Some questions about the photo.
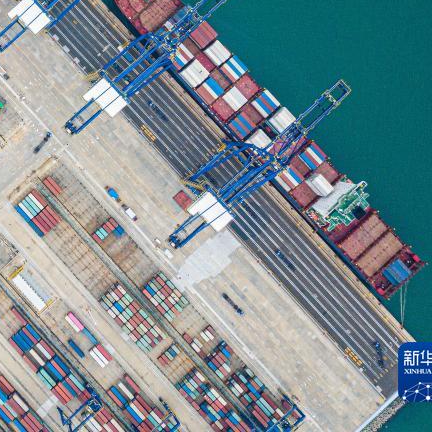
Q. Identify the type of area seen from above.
port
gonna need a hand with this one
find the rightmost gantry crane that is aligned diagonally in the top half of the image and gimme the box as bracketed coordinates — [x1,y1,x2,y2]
[165,78,354,252]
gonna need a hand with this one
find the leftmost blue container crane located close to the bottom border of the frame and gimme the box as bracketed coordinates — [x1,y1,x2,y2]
[56,380,103,432]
